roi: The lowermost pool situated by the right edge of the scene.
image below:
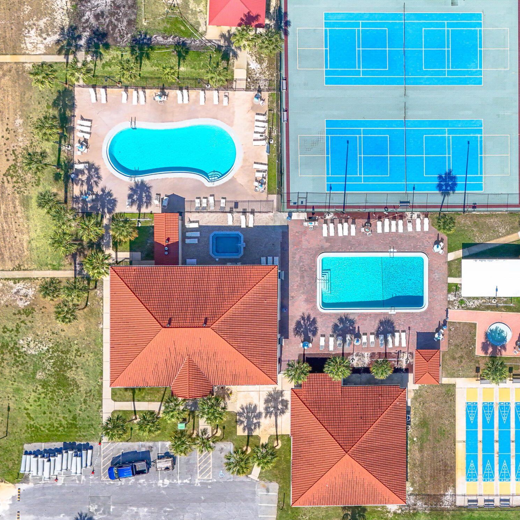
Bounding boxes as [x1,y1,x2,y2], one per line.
[484,320,512,349]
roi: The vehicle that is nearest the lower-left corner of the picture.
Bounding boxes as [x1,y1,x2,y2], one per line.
[109,461,150,480]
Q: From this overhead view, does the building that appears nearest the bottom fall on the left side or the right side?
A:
right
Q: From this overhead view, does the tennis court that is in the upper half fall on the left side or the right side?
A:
right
